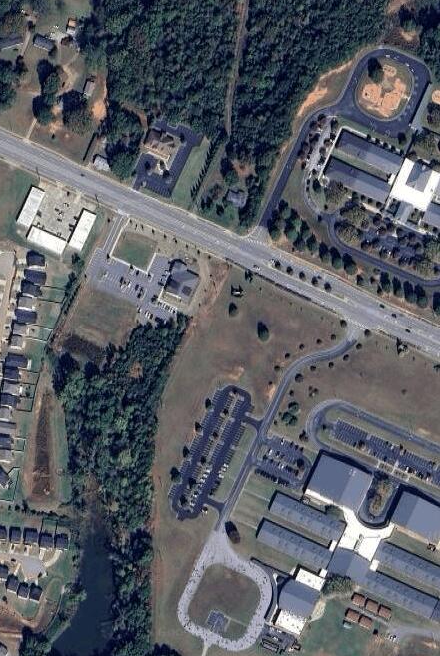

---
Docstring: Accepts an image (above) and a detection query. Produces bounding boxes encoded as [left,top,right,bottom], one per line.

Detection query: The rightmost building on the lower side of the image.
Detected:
[391,493,440,552]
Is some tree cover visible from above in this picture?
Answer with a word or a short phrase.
Yes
